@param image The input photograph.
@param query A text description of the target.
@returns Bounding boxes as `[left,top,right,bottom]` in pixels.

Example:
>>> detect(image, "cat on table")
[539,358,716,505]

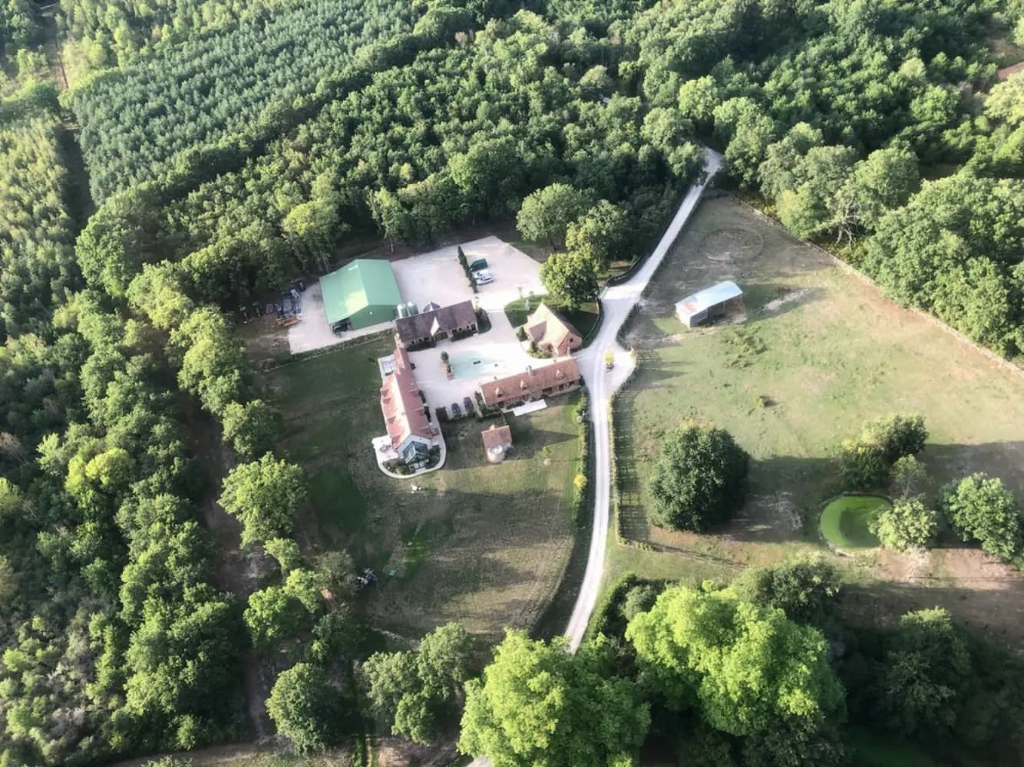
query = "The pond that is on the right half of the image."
[821,495,889,549]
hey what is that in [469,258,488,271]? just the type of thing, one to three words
vehicle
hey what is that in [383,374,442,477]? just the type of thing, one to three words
house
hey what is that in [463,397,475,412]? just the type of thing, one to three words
vehicle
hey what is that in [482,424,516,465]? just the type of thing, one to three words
building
